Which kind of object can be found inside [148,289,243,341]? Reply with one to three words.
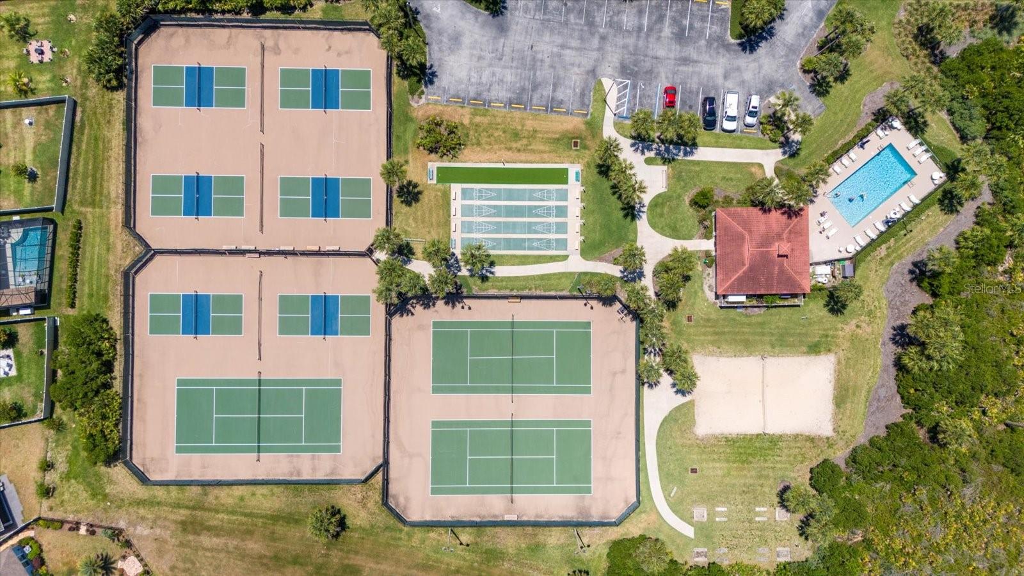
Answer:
sports court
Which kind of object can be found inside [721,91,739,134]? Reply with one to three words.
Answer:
vehicle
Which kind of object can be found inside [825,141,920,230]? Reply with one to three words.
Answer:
swimming pool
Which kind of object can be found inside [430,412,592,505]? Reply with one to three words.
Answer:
tennis court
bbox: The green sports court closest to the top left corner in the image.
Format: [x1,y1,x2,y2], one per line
[152,62,246,113]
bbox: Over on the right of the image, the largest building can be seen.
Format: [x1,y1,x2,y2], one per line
[711,206,810,305]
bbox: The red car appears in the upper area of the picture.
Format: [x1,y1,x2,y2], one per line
[662,85,677,112]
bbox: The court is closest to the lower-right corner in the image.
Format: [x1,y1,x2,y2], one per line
[693,354,835,438]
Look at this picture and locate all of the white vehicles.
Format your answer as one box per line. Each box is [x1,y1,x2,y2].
[721,91,739,134]
[743,95,760,127]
